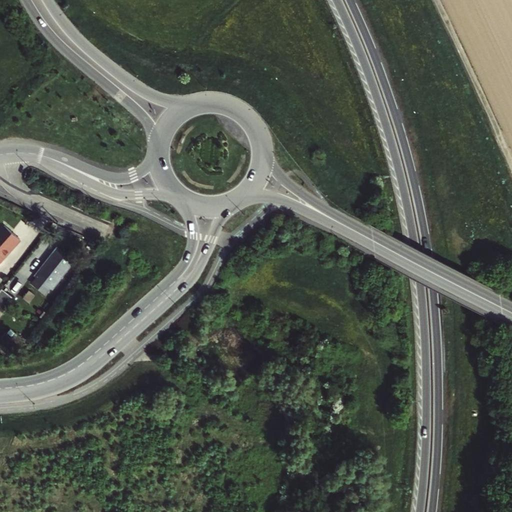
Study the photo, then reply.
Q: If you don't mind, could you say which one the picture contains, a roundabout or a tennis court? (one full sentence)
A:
Looking from above, you can make out a roundabout.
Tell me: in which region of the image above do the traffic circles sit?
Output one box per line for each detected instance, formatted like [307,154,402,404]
[147,91,274,218]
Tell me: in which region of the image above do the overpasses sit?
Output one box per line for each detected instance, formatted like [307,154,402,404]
[326,205,512,324]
